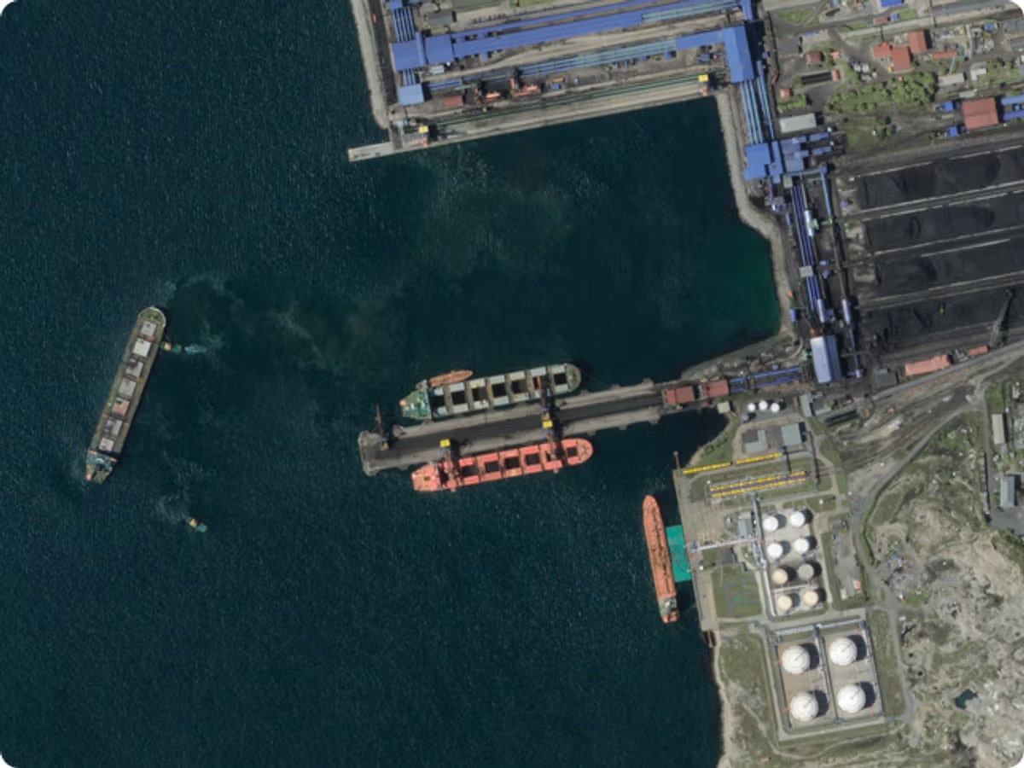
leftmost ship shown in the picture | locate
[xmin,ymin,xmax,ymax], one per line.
[86,308,166,484]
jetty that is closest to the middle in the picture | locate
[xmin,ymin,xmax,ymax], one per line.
[358,376,725,475]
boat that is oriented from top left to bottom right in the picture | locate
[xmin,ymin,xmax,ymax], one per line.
[186,518,208,533]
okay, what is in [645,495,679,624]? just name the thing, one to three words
ship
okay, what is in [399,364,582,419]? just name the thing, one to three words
ship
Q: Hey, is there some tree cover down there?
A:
No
